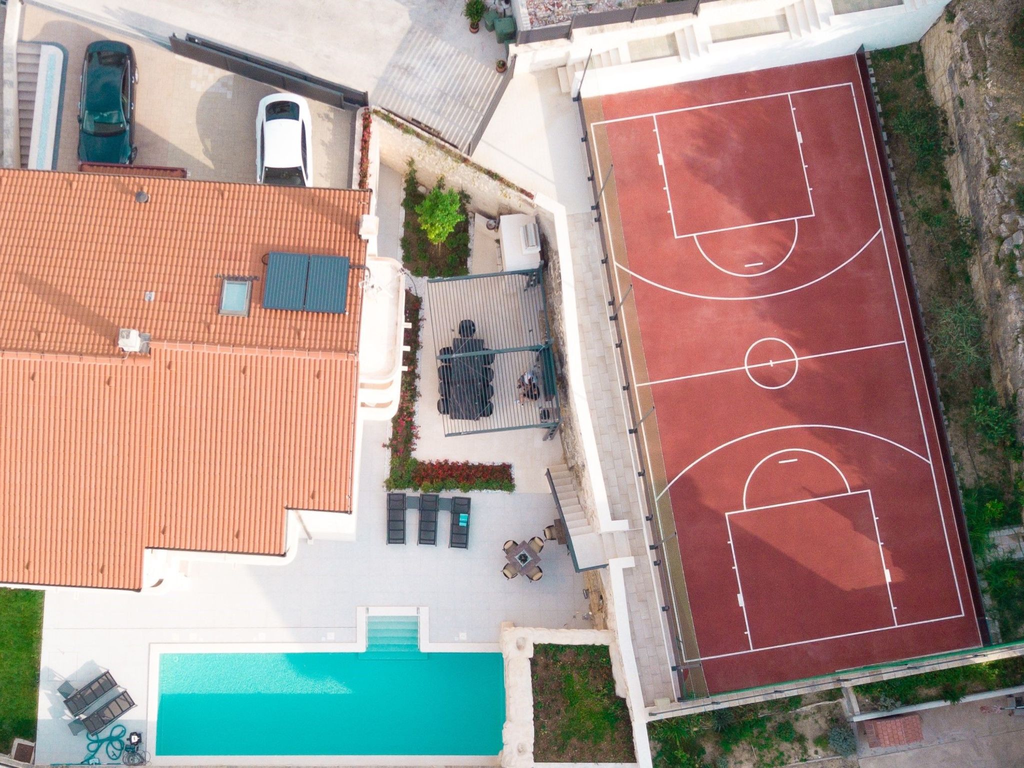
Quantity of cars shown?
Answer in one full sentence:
The photo contains 2 cars.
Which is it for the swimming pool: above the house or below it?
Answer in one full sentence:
The swimming pool is found below the house in the photo.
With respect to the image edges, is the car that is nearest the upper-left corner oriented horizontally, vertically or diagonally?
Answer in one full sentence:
The car that is nearest the upper-left corner is oriented vertically.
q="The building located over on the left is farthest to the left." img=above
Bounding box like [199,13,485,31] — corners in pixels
[0,162,413,601]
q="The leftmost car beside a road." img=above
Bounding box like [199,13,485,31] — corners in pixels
[71,37,132,164]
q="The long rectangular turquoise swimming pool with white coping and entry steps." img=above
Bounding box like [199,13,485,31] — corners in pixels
[146,607,504,765]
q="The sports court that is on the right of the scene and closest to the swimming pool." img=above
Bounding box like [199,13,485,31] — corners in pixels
[583,54,981,700]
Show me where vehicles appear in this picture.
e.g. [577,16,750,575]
[71,37,132,164]
[250,93,313,185]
